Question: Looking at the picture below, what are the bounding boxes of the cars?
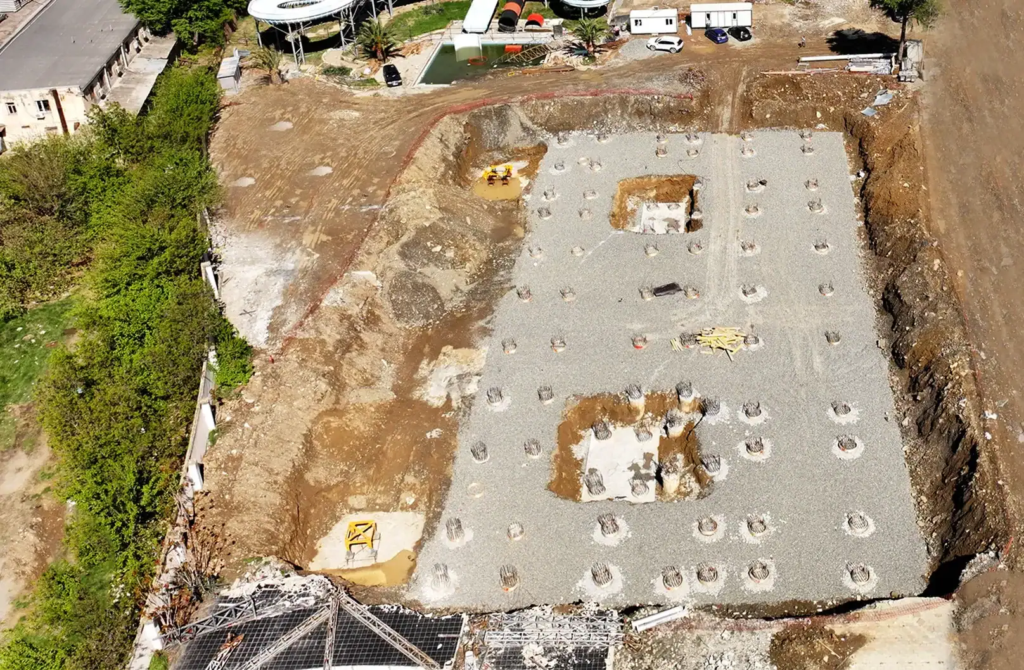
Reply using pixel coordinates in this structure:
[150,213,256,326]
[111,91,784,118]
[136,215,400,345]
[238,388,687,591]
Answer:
[725,22,755,41]
[704,25,732,44]
[645,32,685,52]
[379,62,402,85]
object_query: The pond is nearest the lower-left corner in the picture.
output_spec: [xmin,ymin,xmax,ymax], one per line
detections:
[329,550,416,587]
